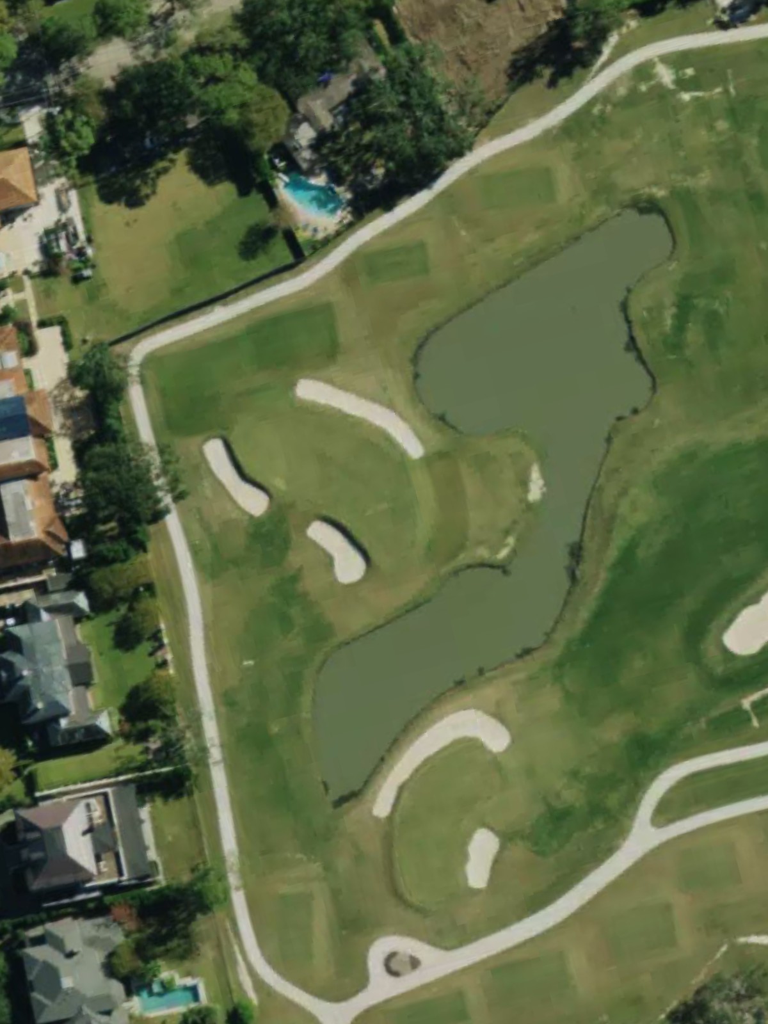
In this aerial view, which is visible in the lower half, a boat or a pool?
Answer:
pool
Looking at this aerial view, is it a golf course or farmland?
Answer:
golf course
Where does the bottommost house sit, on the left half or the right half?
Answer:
left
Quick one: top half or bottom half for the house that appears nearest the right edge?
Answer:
top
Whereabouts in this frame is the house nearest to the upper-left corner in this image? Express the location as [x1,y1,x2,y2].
[0,147,38,209]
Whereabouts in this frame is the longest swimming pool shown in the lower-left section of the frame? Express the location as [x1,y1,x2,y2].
[138,982,201,1015]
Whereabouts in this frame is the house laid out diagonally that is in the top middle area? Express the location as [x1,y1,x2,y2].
[286,37,384,173]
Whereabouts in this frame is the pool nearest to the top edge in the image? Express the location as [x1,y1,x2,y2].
[284,172,344,218]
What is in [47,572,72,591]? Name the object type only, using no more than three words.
shed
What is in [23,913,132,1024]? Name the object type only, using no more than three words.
house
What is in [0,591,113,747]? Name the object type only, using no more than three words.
house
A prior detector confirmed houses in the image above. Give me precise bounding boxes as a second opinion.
[0,147,38,209]
[23,913,132,1024]
[0,326,68,571]
[286,37,384,173]
[0,591,113,747]
[14,783,150,890]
